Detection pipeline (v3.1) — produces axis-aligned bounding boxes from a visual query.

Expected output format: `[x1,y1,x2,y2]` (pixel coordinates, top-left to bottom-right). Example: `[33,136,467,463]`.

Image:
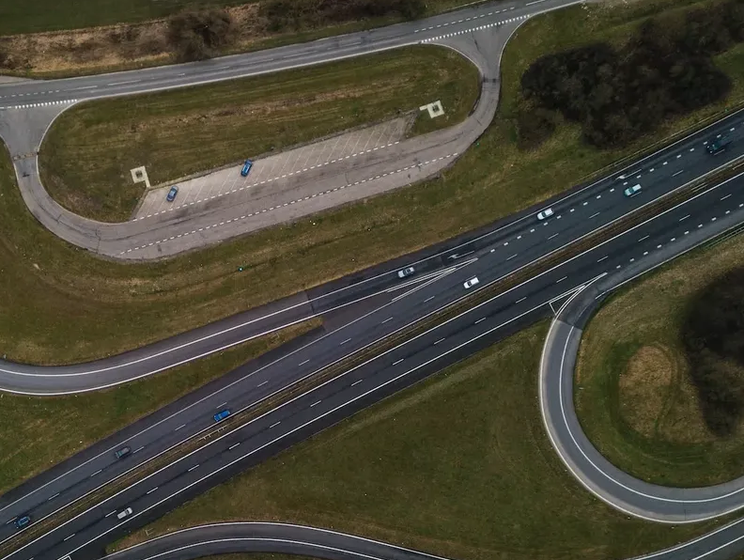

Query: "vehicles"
[214,409,231,422]
[166,185,178,201]
[463,275,482,289]
[116,506,133,520]
[624,182,645,196]
[13,515,31,528]
[537,207,556,219]
[114,446,131,459]
[241,158,253,176]
[398,266,416,277]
